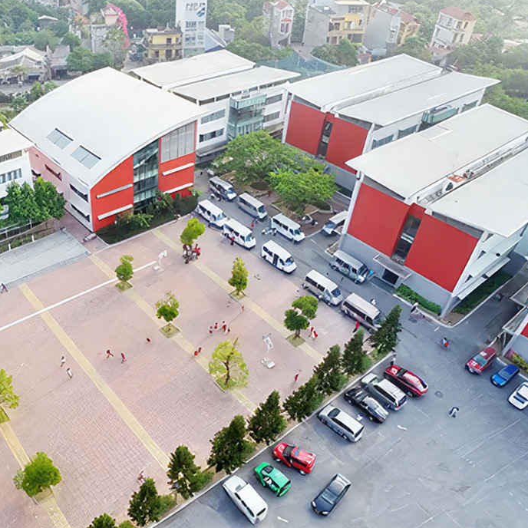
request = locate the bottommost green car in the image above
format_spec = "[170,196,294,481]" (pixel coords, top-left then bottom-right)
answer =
[252,464,289,497]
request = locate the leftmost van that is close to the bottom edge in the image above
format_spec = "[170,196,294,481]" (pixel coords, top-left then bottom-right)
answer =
[227,475,269,526]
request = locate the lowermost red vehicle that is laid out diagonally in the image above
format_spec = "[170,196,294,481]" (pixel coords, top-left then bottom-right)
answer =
[274,445,316,479]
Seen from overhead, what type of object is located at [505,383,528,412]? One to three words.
car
